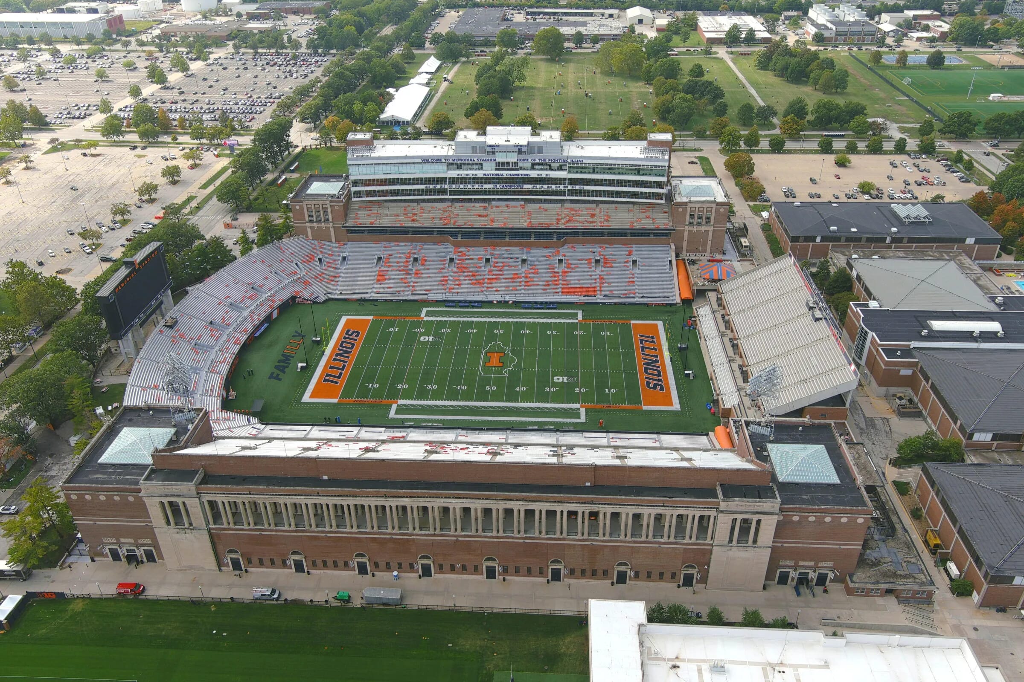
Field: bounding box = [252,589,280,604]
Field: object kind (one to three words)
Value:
vehicle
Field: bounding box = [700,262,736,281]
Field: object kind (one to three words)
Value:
tent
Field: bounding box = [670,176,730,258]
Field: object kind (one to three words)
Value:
building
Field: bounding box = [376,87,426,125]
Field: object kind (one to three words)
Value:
tent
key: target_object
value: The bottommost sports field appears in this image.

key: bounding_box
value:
[224,300,722,431]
